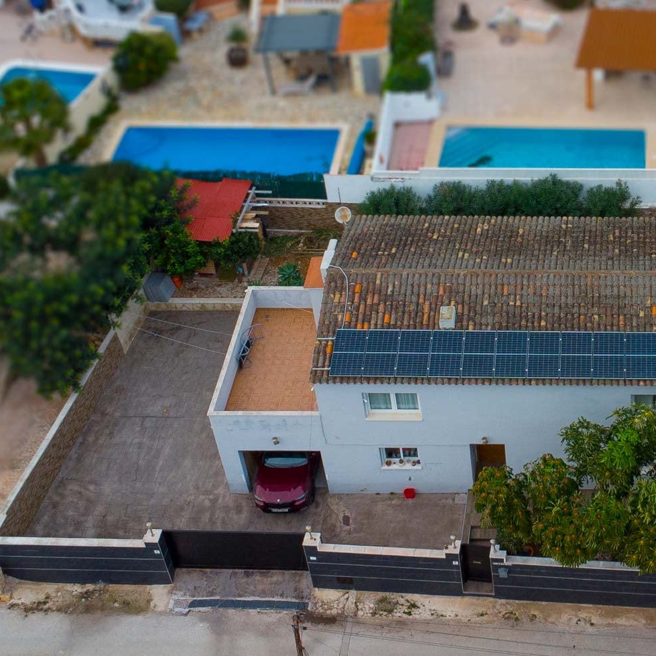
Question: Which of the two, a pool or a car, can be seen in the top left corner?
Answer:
pool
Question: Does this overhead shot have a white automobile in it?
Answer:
No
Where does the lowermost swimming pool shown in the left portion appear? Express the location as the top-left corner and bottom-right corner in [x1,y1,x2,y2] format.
[100,121,348,175]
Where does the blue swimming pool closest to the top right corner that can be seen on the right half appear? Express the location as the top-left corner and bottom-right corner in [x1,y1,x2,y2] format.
[427,120,656,167]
